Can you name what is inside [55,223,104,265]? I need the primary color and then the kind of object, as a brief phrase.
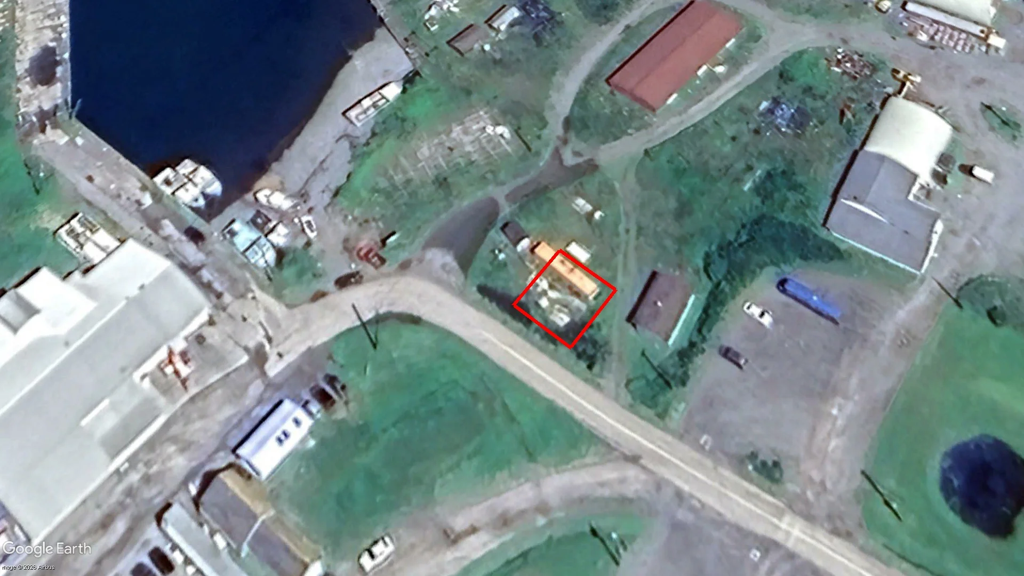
white boat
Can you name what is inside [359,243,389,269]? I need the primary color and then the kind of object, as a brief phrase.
red work vehicle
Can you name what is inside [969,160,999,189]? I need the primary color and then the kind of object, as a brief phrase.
white vehicle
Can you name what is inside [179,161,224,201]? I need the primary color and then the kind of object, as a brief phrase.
white boat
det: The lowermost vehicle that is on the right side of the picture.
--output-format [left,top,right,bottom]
[718,345,752,372]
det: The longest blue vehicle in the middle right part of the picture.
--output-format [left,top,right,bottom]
[776,275,844,328]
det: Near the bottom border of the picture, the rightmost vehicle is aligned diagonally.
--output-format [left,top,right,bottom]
[357,537,397,570]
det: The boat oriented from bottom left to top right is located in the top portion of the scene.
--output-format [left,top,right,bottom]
[347,81,408,127]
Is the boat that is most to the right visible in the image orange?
No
